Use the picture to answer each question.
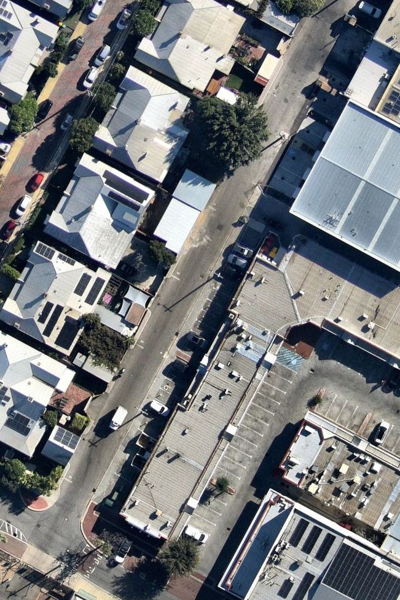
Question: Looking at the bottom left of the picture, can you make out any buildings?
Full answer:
Yes, looking at the bottom left of the picture, one can make out a building.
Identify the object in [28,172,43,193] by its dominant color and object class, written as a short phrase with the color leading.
red car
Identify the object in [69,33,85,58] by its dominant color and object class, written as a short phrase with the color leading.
black car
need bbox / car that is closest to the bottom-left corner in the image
[115,540,133,563]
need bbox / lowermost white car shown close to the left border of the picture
[14,194,32,218]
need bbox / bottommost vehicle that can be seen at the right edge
[373,421,391,444]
